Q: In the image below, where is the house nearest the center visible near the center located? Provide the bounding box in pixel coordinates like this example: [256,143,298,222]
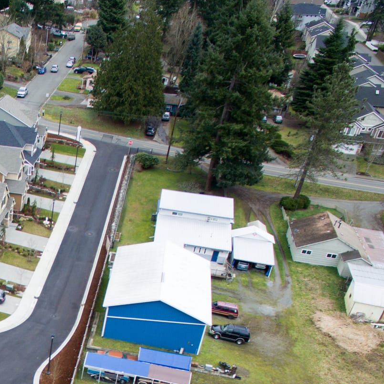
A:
[153,184,234,265]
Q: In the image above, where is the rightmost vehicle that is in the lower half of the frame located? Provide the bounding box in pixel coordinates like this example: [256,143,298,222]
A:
[250,262,266,275]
